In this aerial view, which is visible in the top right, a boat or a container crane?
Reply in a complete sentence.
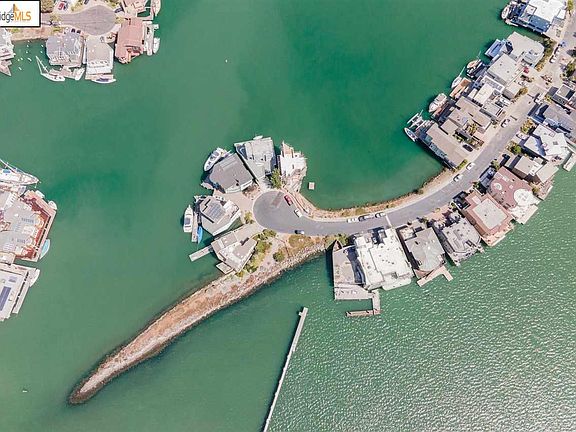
You can see a boat in the top right.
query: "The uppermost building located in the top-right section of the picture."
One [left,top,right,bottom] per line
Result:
[510,0,567,40]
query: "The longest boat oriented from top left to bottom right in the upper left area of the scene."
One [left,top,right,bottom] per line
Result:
[33,53,67,82]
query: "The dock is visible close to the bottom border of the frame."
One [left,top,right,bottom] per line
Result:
[263,307,308,432]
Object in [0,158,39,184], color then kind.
white boat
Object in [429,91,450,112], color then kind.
white boat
